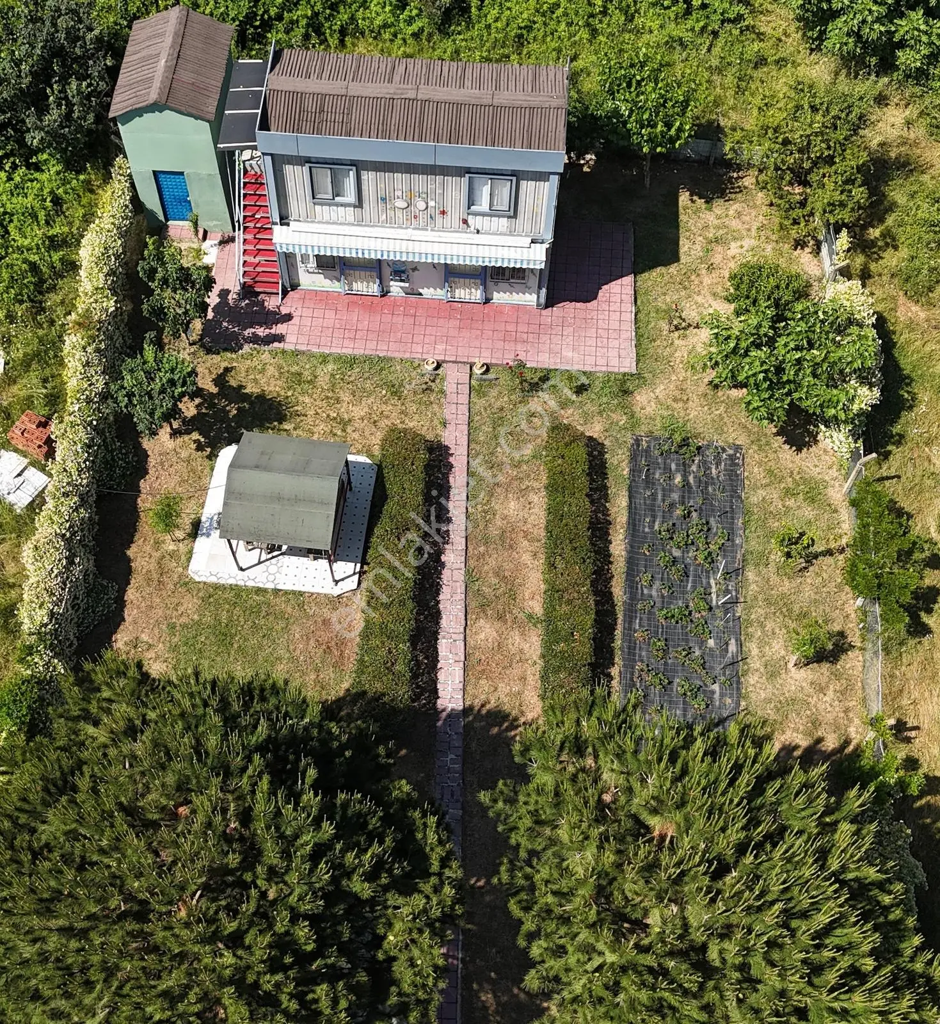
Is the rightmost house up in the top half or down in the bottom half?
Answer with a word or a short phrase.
top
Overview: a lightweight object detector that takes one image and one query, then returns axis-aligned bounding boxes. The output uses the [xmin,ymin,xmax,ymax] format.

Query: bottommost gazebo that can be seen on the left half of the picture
[218,429,353,582]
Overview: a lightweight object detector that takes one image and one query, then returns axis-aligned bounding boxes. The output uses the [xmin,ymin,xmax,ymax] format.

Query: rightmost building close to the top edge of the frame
[257,33,572,307]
